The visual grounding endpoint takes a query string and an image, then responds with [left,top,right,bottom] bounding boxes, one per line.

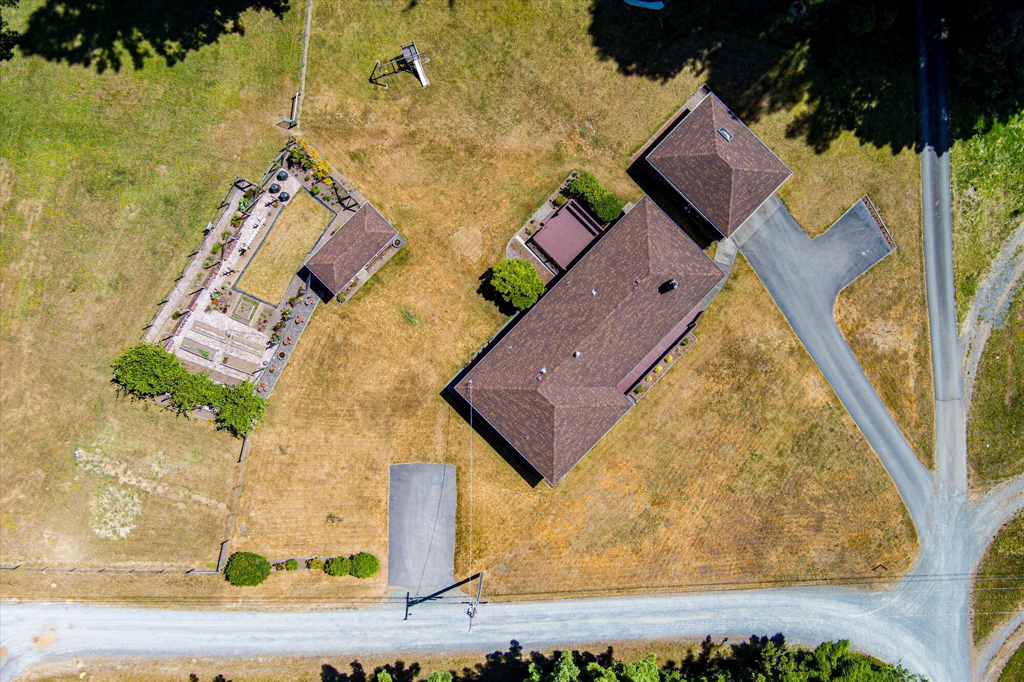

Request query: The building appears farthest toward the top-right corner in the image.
[645,92,792,239]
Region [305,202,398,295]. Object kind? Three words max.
shed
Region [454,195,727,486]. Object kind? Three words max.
house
